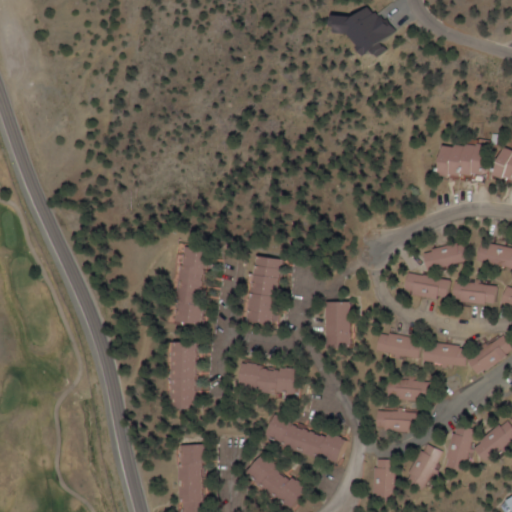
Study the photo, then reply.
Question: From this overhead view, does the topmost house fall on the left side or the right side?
right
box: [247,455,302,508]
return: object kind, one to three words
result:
building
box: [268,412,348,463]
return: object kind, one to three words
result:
building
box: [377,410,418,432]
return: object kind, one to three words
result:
house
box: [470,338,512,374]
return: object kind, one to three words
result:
house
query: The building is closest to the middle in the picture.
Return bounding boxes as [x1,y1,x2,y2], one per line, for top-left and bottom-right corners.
[246,256,285,324]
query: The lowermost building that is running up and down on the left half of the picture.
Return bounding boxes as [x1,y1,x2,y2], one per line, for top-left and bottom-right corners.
[177,444,206,512]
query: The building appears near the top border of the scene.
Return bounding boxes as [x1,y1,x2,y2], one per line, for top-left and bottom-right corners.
[328,4,396,56]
